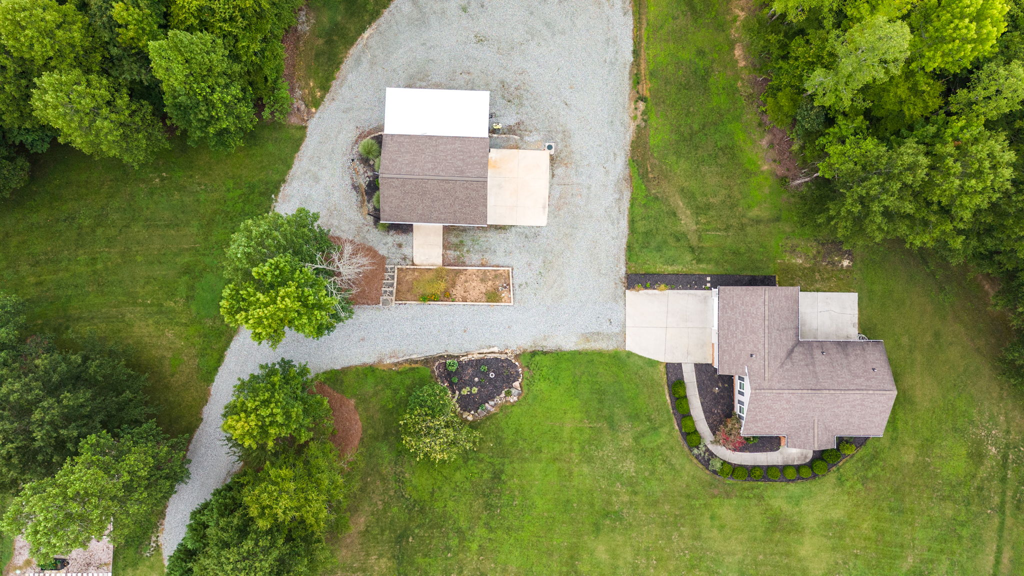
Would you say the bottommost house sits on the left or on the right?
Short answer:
right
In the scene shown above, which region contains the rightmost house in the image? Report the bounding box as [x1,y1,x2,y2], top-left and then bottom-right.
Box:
[712,286,896,451]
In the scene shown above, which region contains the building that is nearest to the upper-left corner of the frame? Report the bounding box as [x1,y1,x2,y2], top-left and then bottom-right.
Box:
[378,87,491,227]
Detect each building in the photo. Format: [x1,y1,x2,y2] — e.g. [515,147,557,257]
[378,87,491,227]
[712,286,896,451]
